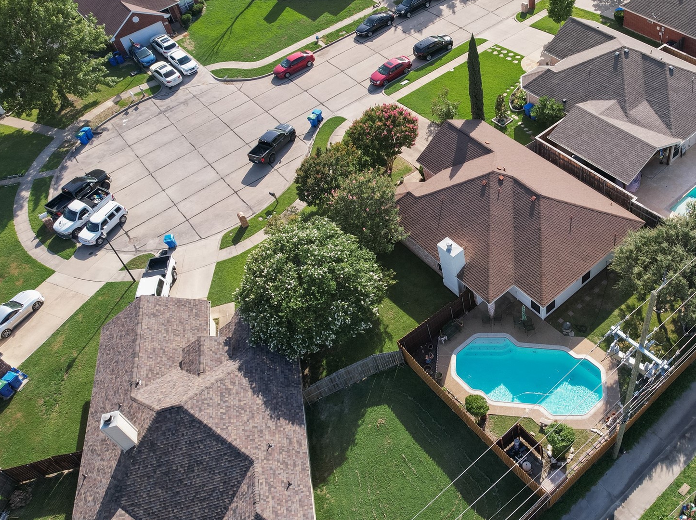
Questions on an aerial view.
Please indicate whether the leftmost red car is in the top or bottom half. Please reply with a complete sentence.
You can find the leftmost red car in the top half.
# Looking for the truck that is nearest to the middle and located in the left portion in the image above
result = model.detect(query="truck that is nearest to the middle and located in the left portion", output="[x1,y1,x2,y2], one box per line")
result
[246,122,298,167]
